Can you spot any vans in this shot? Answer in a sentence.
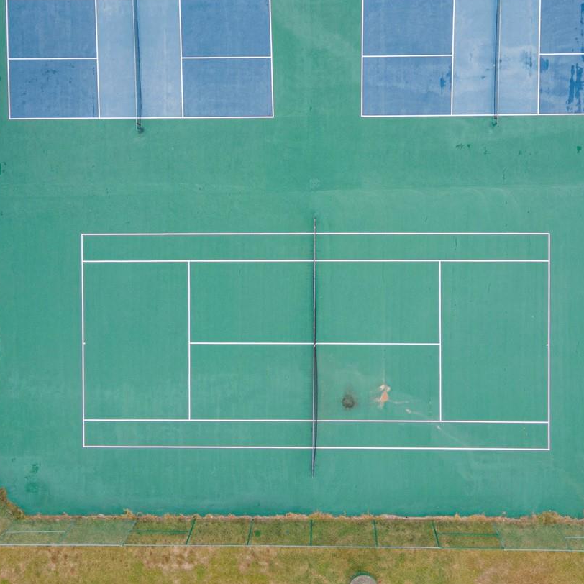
No, I find no van anywhere in the image.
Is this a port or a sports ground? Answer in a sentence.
This image shows a sports ground.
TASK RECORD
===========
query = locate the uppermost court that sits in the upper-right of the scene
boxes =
[362,0,584,117]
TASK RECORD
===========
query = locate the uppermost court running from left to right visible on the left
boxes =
[6,0,274,119]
